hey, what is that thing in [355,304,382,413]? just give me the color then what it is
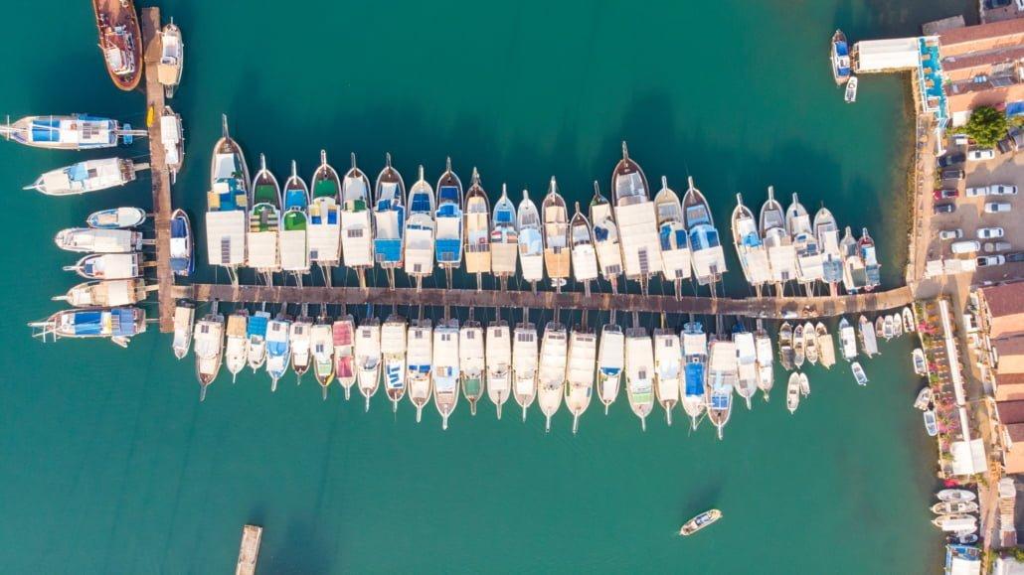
white boat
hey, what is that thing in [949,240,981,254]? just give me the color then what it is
white vehicle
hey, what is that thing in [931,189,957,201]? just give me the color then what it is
red vehicle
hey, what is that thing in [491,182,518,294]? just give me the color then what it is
white boat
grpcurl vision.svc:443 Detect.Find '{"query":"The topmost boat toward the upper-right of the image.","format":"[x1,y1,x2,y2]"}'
[827,29,850,86]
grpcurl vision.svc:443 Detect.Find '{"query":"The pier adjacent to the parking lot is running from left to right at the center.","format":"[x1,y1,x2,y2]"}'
[175,285,913,319]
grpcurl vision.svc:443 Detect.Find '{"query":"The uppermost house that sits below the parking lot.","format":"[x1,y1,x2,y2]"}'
[966,284,1024,339]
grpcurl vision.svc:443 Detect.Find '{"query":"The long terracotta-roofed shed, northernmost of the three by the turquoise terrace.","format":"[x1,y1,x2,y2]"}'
[936,18,1024,58]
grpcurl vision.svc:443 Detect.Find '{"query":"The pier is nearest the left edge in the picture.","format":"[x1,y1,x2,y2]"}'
[146,7,174,332]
